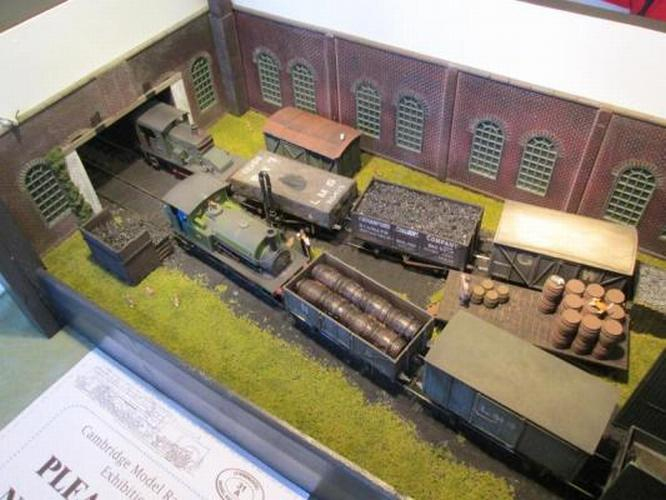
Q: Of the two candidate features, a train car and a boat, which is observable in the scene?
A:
train car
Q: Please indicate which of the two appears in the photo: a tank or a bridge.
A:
tank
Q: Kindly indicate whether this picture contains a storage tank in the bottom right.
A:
No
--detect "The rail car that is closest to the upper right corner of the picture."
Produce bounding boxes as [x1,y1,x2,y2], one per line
[343,176,487,272]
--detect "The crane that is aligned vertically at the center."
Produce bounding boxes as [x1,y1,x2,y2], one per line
[260,174,282,233]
